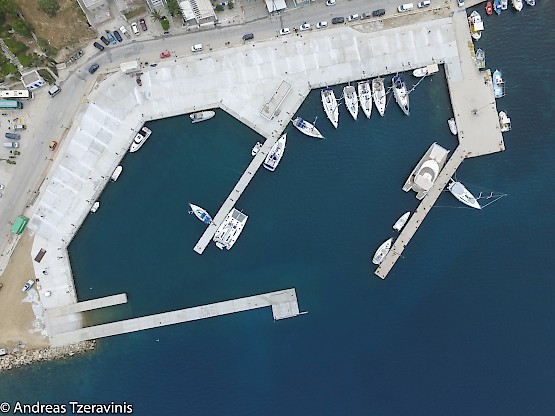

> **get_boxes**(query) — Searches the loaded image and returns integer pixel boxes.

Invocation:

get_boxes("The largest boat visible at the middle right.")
[401,141,451,200]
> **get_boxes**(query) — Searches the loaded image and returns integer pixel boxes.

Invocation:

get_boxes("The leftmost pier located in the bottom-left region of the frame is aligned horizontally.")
[45,292,129,319]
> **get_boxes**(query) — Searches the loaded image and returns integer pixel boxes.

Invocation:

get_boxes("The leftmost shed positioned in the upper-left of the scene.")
[21,70,46,90]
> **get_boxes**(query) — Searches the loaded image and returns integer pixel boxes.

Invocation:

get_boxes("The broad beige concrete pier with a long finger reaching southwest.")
[373,10,505,279]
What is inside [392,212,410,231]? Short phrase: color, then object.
white boat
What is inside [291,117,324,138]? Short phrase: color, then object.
white boat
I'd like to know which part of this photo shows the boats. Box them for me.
[401,141,451,200]
[510,0,522,11]
[491,69,504,99]
[291,117,324,138]
[189,111,214,122]
[112,166,122,181]
[483,2,491,17]
[448,180,507,209]
[391,72,427,115]
[321,85,339,128]
[447,117,457,133]
[392,212,410,231]
[344,82,362,120]
[215,209,247,249]
[501,0,507,11]
[371,74,393,115]
[522,0,534,6]
[357,77,378,119]
[492,0,501,16]
[476,49,485,69]
[413,64,441,76]
[130,127,153,152]
[189,204,215,224]
[469,10,485,41]
[372,238,397,264]
[498,111,513,133]
[264,133,287,170]
[253,141,261,154]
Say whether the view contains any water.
Yes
